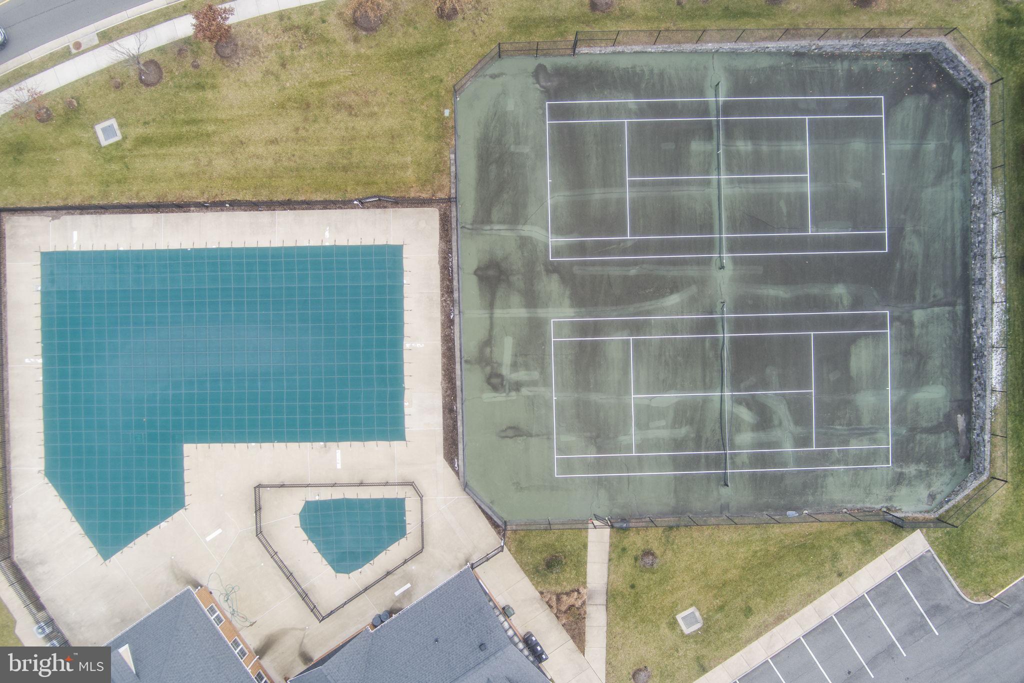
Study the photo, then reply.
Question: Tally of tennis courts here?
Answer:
2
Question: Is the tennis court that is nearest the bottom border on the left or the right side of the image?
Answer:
right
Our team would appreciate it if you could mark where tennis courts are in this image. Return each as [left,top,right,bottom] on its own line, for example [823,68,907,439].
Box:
[455,52,971,289]
[460,276,972,520]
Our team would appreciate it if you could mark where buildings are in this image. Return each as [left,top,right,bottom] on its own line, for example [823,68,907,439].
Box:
[285,564,552,683]
[48,584,273,683]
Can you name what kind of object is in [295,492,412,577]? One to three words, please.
swimming pool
